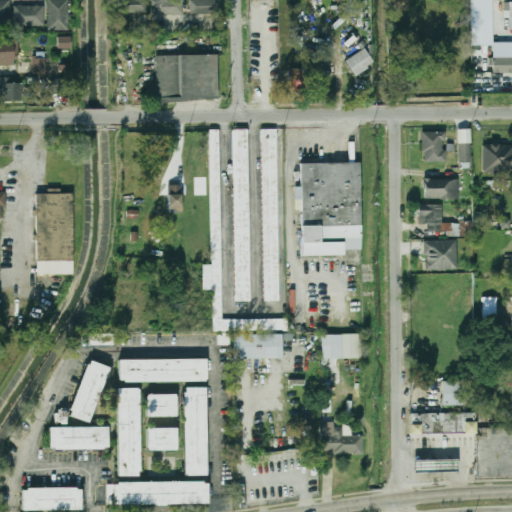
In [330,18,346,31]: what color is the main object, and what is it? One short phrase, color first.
white vehicle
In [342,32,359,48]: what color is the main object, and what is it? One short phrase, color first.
white camper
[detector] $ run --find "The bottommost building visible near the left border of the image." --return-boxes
[21,487,83,510]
